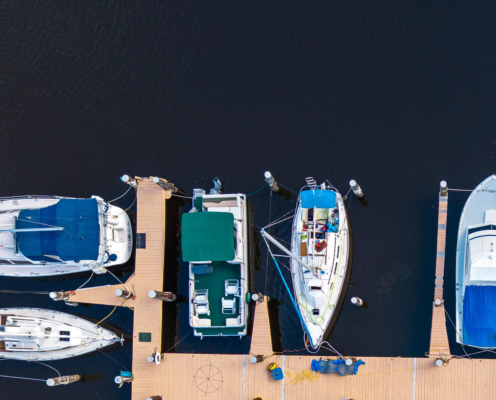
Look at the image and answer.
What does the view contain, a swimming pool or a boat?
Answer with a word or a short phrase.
boat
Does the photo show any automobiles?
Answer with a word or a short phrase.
No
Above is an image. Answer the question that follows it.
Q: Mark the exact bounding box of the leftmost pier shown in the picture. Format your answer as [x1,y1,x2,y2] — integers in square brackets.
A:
[69,267,137,307]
